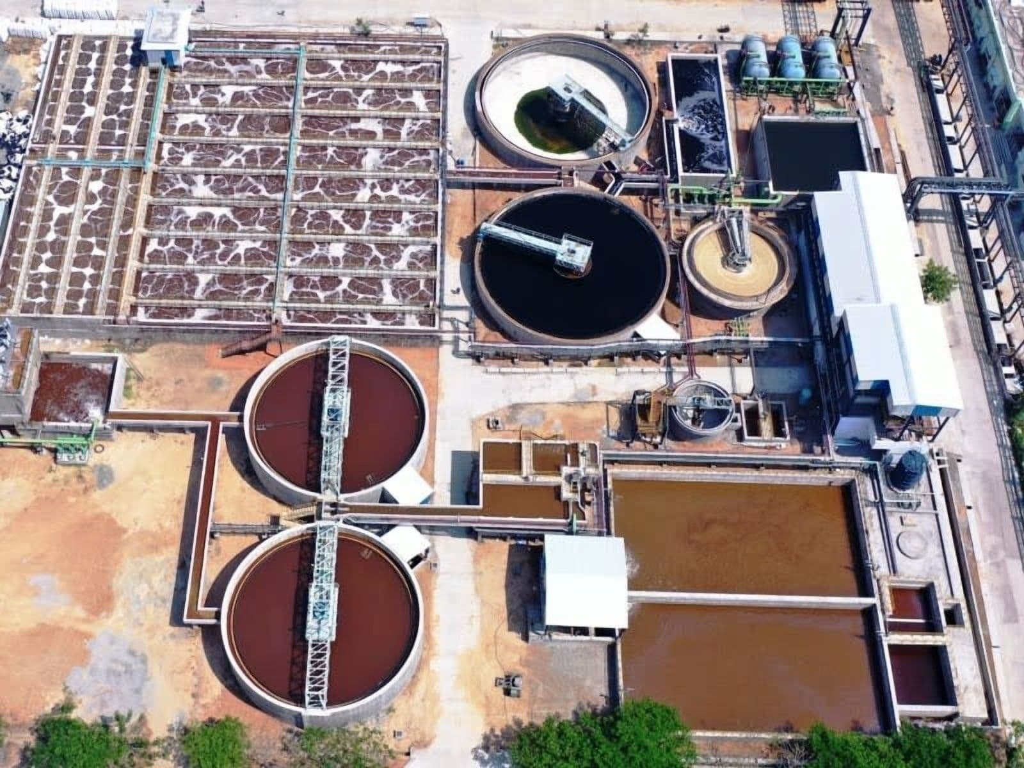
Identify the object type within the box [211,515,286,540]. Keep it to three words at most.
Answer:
bridge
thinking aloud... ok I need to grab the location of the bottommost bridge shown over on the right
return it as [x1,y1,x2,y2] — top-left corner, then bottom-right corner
[470,320,816,367]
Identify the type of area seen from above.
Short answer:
industrial area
